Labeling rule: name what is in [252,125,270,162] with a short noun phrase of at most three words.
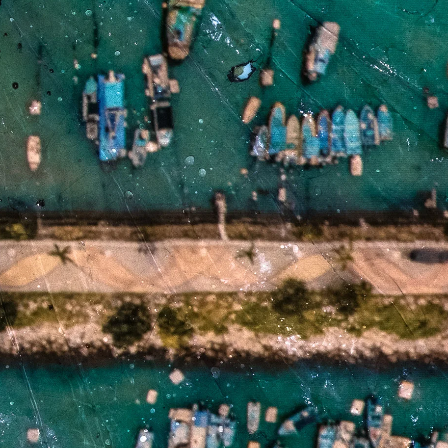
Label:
boat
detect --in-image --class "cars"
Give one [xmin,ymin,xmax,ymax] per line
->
[405,247,448,265]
